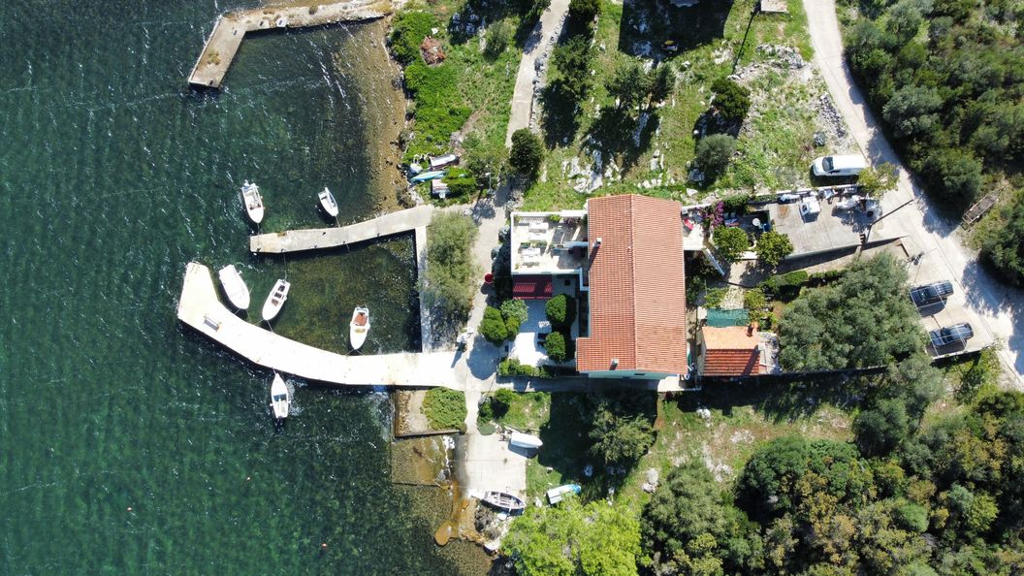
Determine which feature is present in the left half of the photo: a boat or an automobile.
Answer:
boat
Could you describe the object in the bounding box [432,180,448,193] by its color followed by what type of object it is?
white boat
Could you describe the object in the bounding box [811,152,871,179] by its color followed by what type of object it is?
white vehicle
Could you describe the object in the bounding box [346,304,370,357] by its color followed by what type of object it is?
white boat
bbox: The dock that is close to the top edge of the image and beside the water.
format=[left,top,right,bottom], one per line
[188,0,390,90]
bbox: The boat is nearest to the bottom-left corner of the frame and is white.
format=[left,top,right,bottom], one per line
[270,367,289,423]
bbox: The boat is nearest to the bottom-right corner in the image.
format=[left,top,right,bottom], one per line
[547,487,580,507]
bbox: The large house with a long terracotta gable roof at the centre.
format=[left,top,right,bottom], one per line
[572,190,687,375]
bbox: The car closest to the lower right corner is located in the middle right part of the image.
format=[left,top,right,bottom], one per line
[922,321,977,351]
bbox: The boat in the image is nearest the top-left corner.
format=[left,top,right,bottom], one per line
[242,183,263,231]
